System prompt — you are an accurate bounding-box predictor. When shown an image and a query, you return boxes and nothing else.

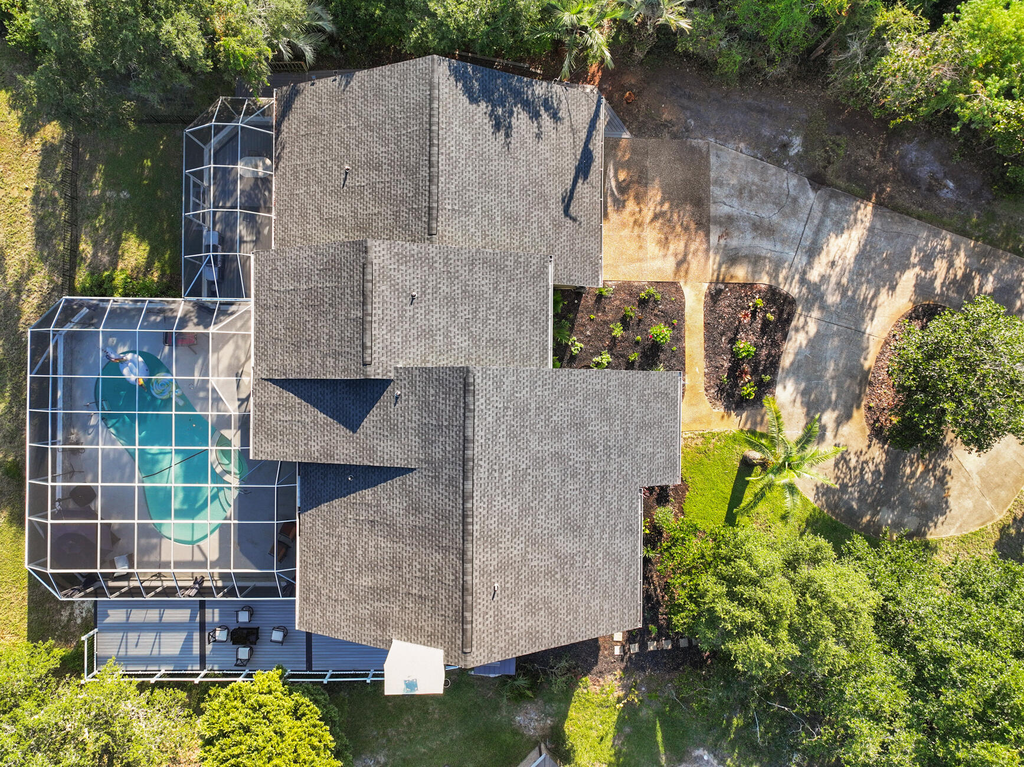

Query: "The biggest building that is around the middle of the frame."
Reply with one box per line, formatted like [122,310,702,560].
[249,54,684,696]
